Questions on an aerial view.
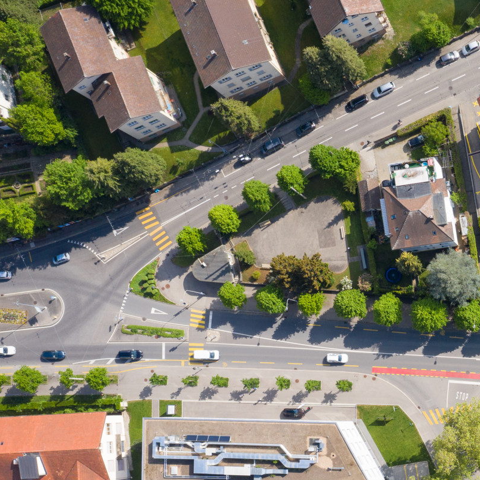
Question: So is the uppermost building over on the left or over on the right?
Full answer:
The uppermost building appears in the right half of the scene.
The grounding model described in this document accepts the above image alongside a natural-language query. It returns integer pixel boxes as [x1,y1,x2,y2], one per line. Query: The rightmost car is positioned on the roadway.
[460,40,480,56]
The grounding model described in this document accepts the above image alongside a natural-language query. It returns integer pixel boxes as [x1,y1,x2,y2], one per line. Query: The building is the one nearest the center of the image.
[192,245,241,285]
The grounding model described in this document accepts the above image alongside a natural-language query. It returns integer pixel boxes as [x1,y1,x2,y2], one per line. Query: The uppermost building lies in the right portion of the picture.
[306,0,394,45]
